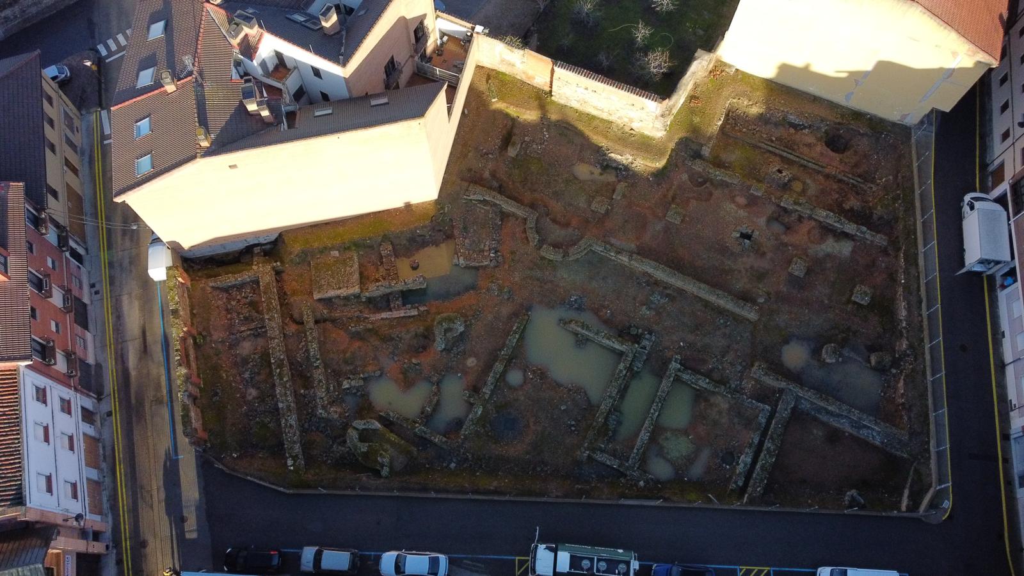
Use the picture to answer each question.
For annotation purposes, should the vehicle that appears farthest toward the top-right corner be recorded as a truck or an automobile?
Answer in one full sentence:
The vehicle that appears farthest toward the top-right corner appears to be a truck.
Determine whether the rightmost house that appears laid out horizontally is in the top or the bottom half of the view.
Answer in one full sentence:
The top half of the photo is where the rightmost house that appears laid out horizontally is.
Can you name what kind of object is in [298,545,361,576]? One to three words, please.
car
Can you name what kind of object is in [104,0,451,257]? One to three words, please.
house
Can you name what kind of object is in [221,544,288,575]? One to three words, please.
car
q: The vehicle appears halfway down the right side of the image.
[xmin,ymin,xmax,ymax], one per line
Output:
[949,200,1012,286]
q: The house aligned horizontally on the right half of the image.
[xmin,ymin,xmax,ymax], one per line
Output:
[719,0,1024,125]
